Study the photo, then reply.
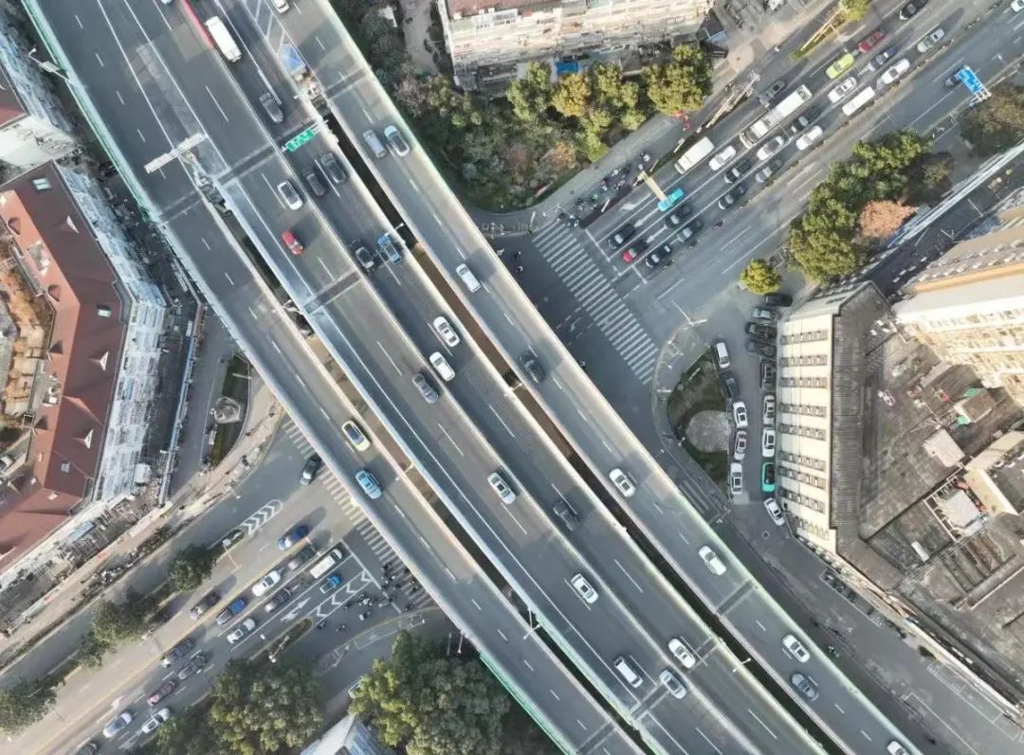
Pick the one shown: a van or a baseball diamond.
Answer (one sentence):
Of the two, only a van appears.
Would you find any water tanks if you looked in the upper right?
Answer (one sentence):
No, the scene shows no water tank in the upper right.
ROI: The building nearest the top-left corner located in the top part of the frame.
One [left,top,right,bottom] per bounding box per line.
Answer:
[0,2,73,169]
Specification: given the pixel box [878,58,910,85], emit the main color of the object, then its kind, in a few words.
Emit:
white car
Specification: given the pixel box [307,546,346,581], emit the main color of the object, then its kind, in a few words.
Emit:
white truck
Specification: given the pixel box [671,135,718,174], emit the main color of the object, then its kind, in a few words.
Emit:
white vehicle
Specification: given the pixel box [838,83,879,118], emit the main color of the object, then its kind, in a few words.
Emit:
white van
